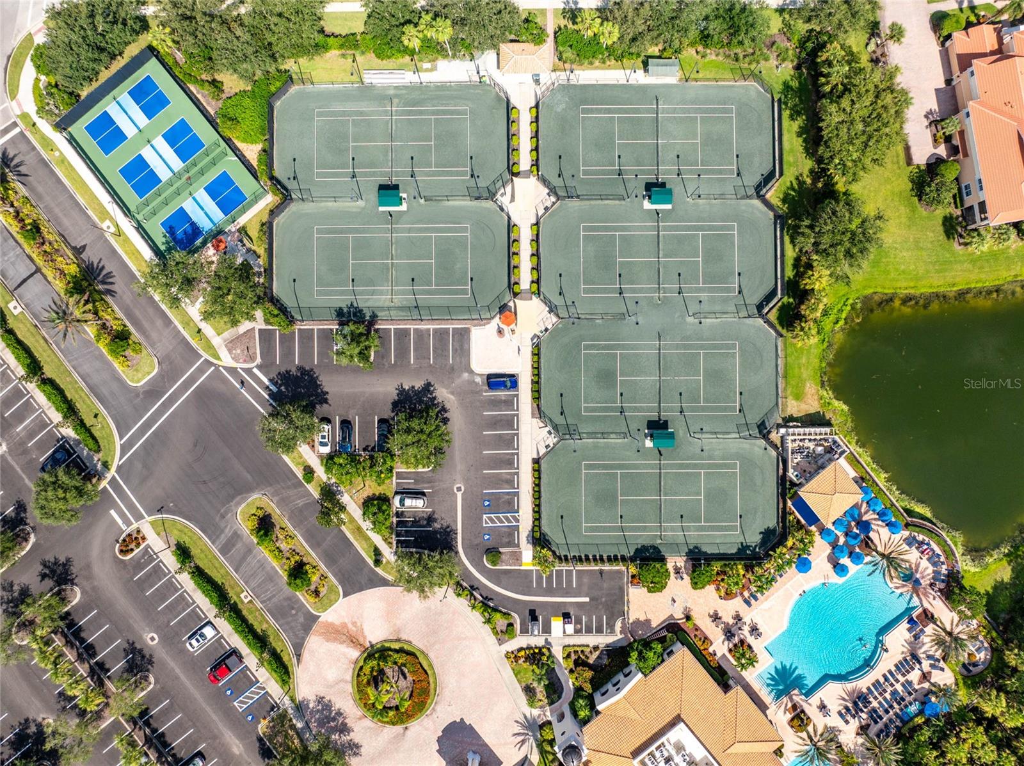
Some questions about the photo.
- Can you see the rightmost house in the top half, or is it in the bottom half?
top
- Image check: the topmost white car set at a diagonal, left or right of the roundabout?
on the left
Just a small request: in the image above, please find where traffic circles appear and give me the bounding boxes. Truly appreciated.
[297,585,538,766]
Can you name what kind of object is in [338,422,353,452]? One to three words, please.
car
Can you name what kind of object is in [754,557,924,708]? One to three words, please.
swimming pool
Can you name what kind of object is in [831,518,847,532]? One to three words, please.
umbrella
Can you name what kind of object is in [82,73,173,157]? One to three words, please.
sports court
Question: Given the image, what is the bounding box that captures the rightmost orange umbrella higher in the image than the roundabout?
[500,311,515,327]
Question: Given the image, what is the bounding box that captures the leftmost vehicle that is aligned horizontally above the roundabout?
[394,493,427,507]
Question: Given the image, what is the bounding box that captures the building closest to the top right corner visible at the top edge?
[940,24,1024,232]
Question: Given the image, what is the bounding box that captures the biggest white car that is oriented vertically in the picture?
[317,420,332,452]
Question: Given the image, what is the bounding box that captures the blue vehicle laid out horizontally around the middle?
[488,376,518,390]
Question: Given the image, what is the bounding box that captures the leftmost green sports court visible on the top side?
[69,57,268,264]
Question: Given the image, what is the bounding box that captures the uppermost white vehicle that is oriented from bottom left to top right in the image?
[186,623,217,652]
